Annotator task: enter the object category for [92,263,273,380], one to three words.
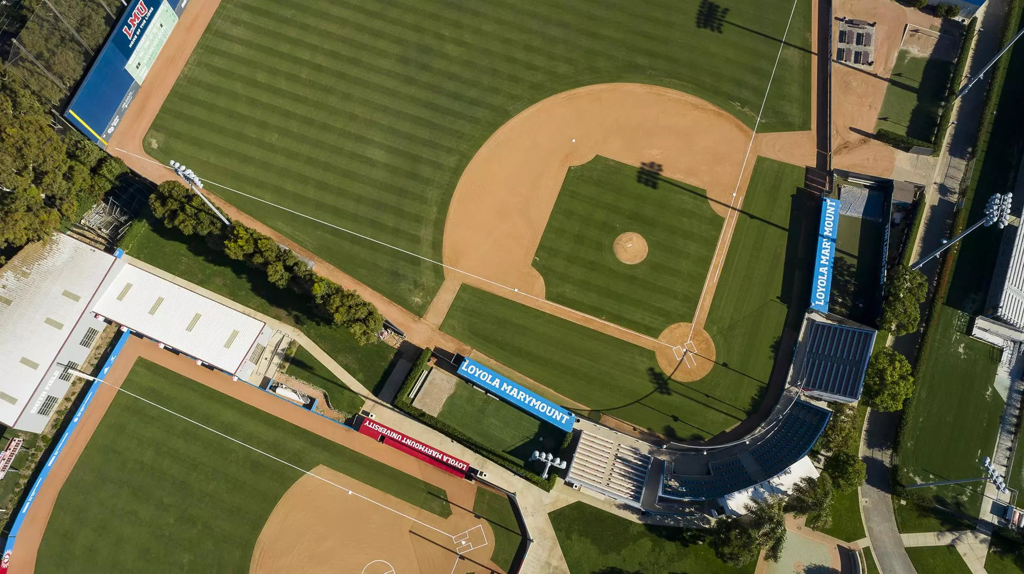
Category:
building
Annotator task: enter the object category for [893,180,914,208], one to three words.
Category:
shed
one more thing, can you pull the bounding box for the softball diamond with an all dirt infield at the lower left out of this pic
[7,332,532,574]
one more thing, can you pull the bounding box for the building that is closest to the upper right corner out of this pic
[920,0,985,28]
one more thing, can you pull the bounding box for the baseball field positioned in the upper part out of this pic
[106,0,831,453]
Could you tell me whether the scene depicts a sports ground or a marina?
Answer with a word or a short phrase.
sports ground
